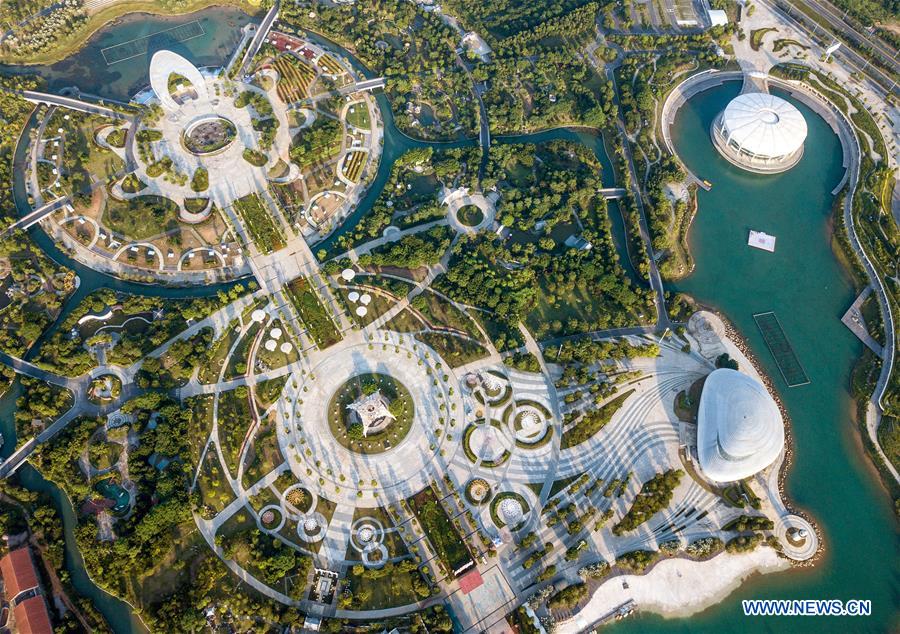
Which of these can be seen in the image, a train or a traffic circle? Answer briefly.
traffic circle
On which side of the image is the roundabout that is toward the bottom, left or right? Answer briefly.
left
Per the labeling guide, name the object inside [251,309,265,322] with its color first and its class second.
white umbrella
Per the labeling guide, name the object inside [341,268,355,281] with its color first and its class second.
white umbrella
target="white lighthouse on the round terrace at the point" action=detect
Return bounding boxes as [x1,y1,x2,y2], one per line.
[786,528,808,550]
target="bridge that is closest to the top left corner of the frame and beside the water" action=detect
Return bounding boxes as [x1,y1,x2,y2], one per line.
[18,89,116,118]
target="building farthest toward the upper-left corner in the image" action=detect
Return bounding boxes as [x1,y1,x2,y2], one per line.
[150,50,207,111]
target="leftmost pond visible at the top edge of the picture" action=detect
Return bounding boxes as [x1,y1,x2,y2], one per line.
[0,0,297,107]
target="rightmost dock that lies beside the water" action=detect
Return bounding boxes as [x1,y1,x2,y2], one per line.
[841,285,886,359]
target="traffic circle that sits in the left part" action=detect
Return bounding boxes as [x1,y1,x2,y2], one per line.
[77,364,132,414]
